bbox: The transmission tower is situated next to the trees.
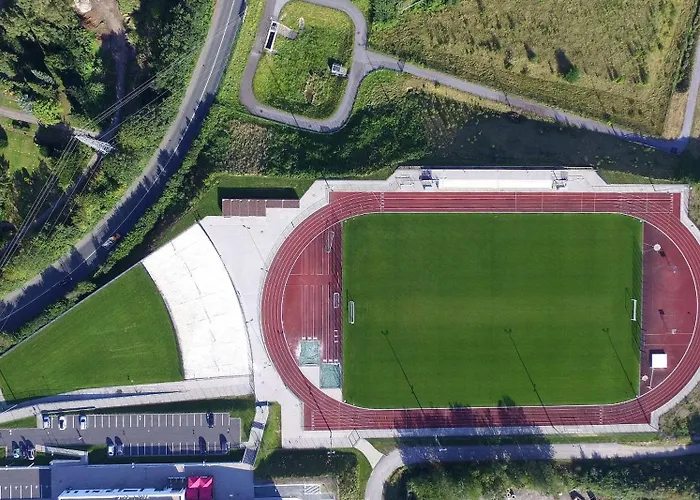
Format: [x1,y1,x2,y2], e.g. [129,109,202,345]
[70,133,114,157]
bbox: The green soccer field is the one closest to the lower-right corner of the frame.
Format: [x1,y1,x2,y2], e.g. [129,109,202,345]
[342,213,644,408]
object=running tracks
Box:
[261,192,700,430]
